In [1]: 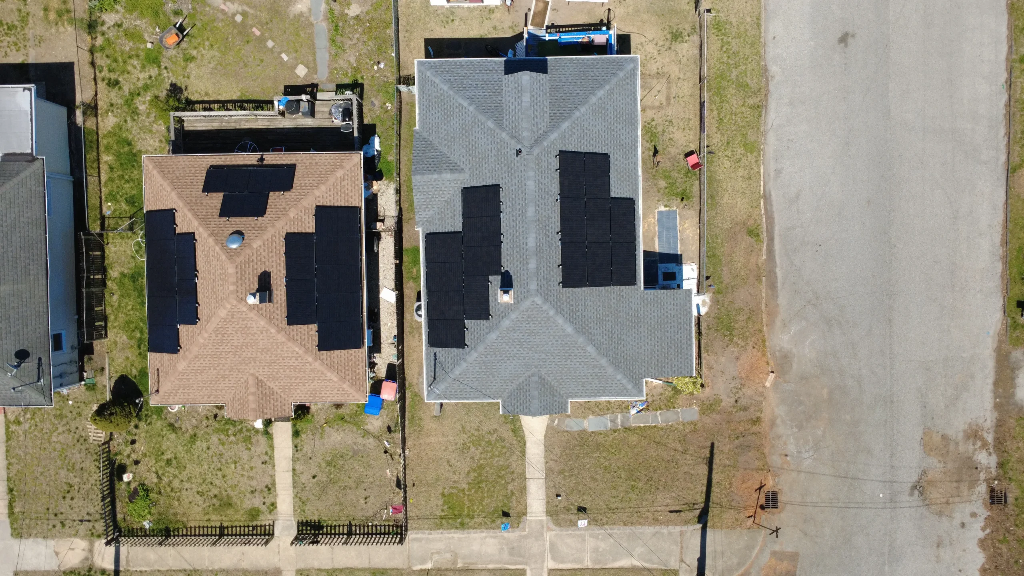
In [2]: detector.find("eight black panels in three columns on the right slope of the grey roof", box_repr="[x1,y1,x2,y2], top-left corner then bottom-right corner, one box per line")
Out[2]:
[556,152,636,287]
